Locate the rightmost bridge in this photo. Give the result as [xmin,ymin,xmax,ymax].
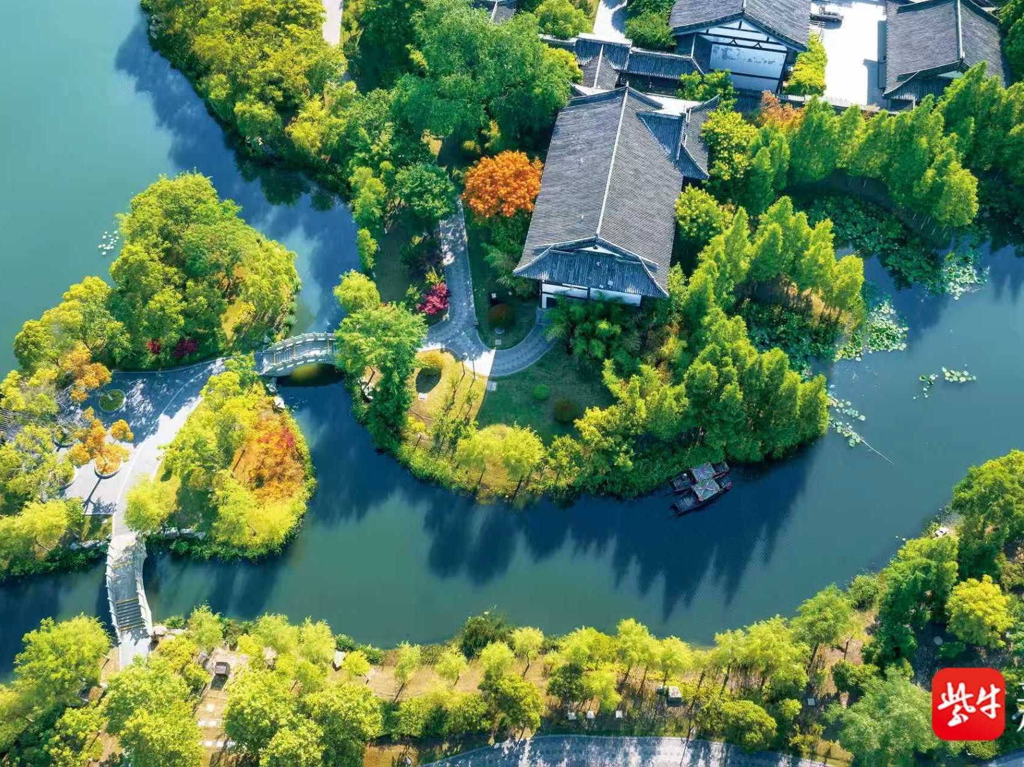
[251,334,389,381]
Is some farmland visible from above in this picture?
No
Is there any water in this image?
Yes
